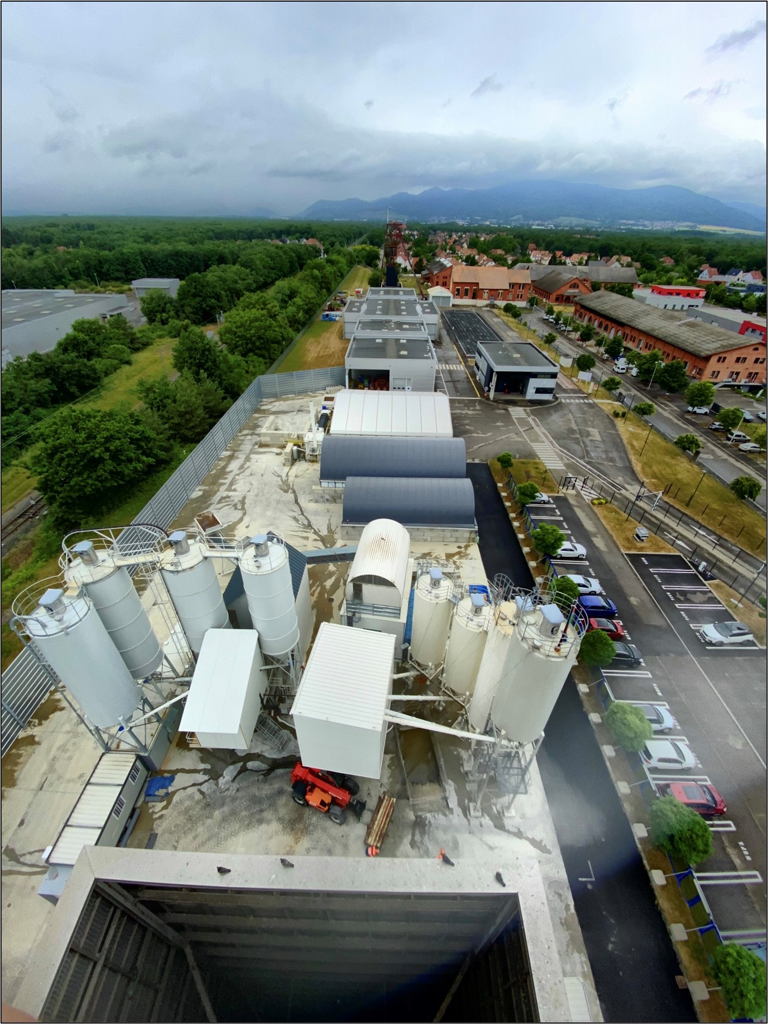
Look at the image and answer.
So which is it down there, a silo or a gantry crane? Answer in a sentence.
I can see a silo in this picture.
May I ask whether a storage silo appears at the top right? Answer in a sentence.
No, no storage silo appears at the top right.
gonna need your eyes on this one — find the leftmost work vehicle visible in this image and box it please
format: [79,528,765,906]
[286,756,358,821]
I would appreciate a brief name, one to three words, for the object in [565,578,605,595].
car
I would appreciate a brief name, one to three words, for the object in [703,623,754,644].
car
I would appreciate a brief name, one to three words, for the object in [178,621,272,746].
shed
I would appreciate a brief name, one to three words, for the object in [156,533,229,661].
silo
